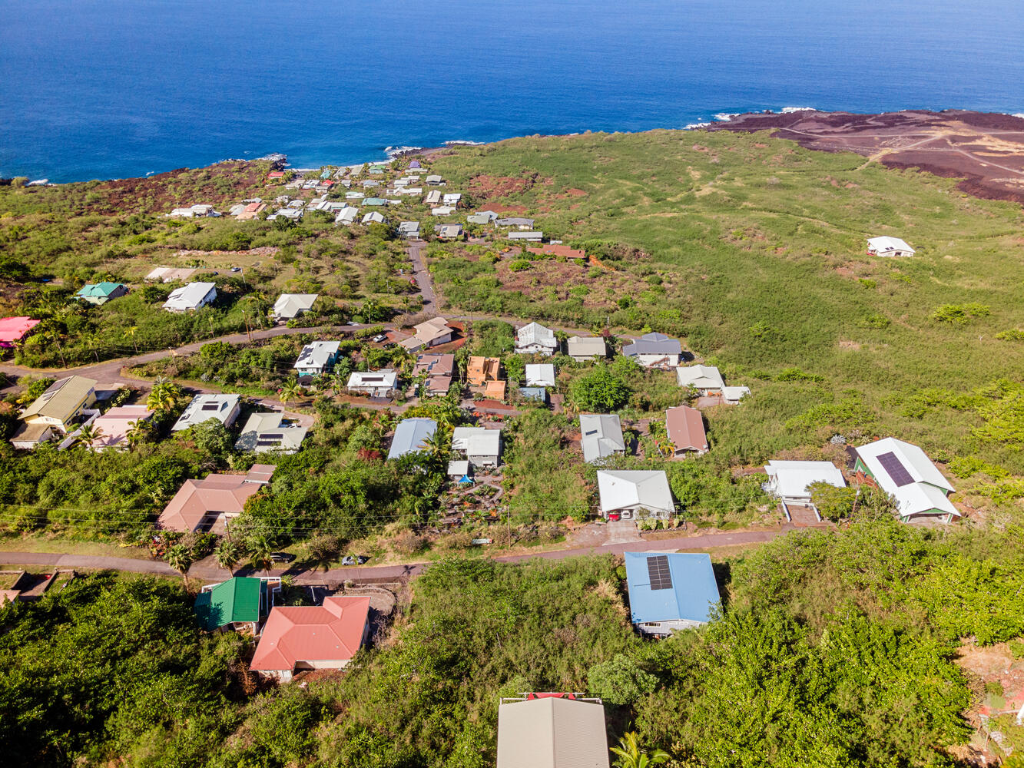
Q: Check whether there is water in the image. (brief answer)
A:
Yes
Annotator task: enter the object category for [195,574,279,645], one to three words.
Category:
house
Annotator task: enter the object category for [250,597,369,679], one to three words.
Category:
house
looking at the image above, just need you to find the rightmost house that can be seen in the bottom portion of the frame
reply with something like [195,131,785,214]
[858,442,963,524]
